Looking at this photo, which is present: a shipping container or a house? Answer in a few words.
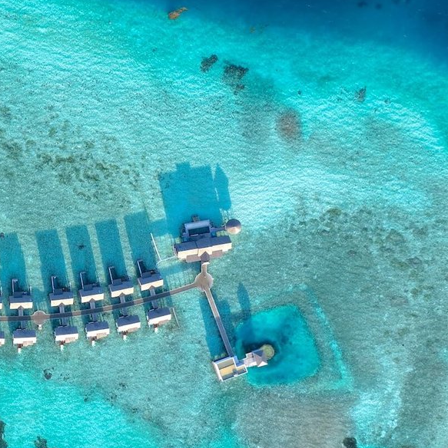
house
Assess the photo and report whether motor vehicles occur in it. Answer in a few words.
No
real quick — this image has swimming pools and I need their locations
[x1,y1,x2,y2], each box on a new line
[136,259,147,273]
[80,272,90,286]
[52,275,62,289]
[13,279,22,291]
[108,267,119,281]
